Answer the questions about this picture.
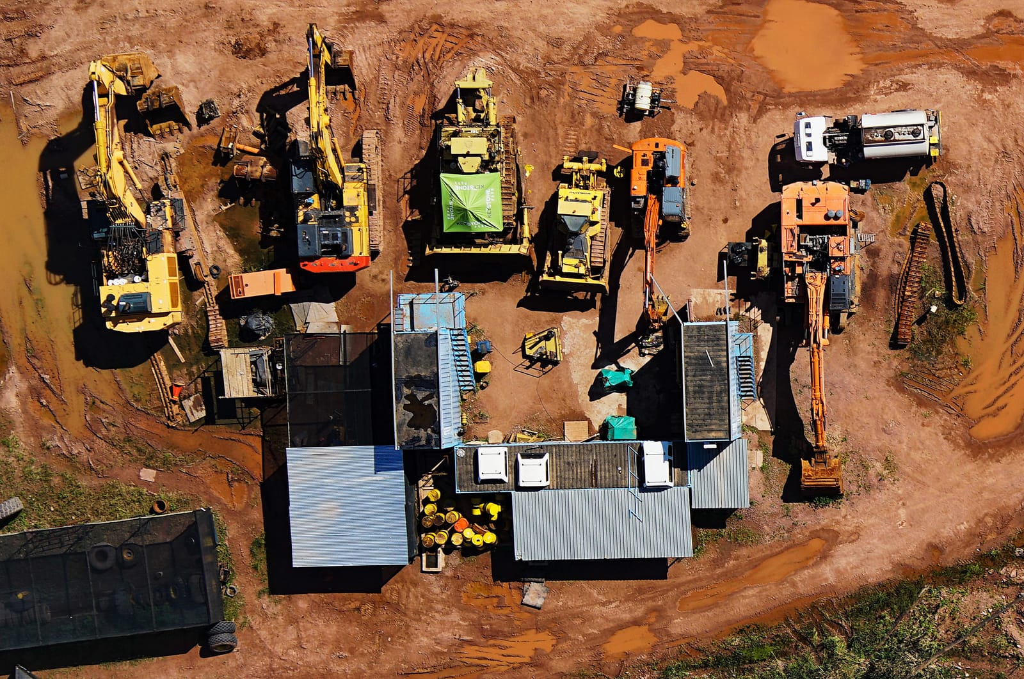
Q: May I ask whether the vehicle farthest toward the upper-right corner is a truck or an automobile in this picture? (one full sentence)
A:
What you see as the vehicle farthest toward the upper-right corner is a truck.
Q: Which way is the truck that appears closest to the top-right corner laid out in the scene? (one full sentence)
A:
In this picture, the truck that appears closest to the top-right corner is oriented from side to side.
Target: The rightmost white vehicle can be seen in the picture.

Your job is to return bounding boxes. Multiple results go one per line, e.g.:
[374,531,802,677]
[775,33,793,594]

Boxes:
[775,106,943,165]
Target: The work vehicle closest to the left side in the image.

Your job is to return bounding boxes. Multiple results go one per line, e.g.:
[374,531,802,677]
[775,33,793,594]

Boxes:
[85,50,218,333]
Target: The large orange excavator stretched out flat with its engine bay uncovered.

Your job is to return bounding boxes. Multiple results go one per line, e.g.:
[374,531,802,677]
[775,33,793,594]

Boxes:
[775,179,865,490]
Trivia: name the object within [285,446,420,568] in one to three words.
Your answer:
shed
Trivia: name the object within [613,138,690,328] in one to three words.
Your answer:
work vehicle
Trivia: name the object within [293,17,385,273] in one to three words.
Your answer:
work vehicle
